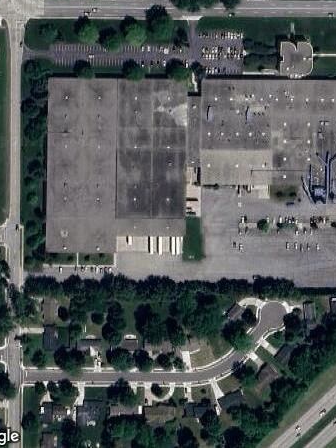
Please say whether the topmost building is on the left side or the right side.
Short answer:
right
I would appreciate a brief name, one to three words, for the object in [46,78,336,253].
building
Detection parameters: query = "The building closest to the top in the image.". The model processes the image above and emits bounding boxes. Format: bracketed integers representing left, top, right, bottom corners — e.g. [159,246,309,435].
[279,42,314,77]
